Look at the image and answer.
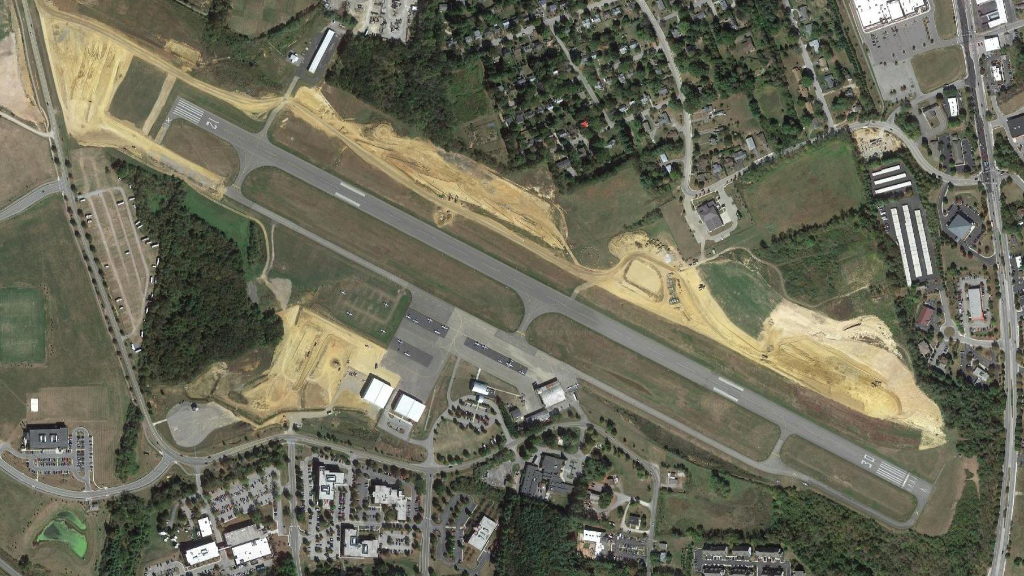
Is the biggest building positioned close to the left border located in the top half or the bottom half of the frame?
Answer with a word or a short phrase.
bottom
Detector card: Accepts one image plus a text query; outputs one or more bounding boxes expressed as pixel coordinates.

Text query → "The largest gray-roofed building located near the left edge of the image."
[29,428,68,449]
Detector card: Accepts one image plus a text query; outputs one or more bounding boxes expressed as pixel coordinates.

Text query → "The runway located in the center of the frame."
[171,97,933,500]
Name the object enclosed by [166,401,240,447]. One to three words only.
helipad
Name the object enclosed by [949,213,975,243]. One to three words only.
building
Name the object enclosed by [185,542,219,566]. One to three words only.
building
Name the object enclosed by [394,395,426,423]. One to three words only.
hangar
